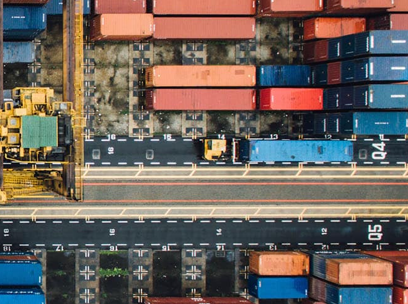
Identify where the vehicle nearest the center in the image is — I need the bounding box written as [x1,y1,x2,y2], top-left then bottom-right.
[198,137,228,164]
